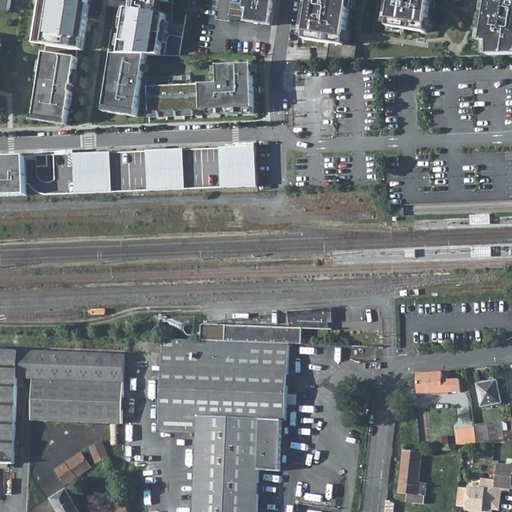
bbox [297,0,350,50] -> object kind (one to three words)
building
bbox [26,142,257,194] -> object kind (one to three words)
building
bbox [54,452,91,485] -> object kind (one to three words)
barn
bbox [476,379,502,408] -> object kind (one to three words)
house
